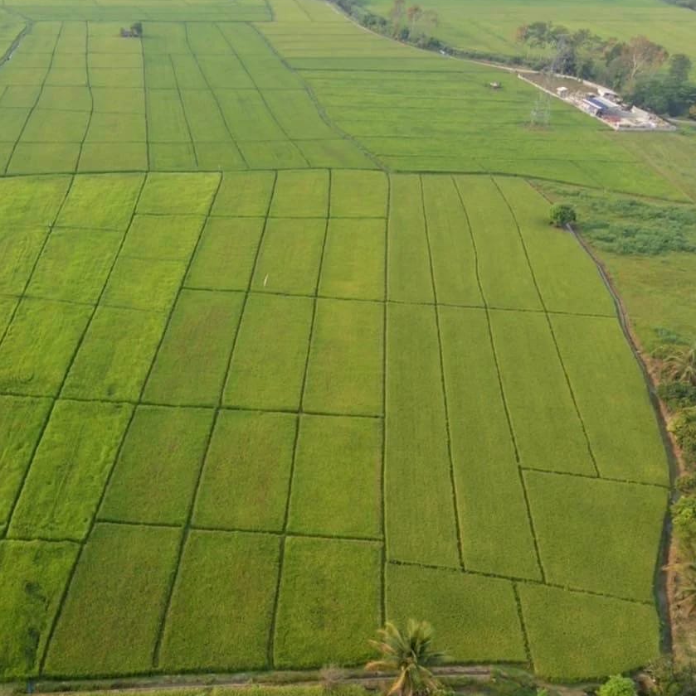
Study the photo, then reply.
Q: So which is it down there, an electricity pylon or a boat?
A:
electricity pylon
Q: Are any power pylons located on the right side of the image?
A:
Yes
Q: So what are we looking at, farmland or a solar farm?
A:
farmland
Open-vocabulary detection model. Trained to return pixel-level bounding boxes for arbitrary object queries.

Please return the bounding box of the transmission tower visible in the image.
[529,31,570,127]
